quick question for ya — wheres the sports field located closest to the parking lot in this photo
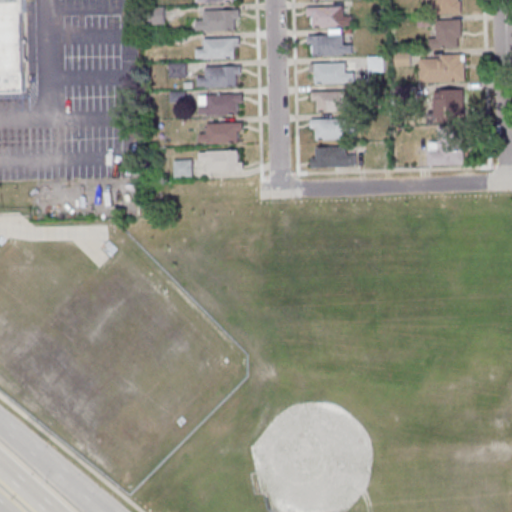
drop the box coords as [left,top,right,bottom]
[0,226,248,494]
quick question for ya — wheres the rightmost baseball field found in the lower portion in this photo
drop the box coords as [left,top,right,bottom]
[250,400,374,512]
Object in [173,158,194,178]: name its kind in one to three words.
building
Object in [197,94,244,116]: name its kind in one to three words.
house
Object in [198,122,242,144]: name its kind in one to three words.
house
